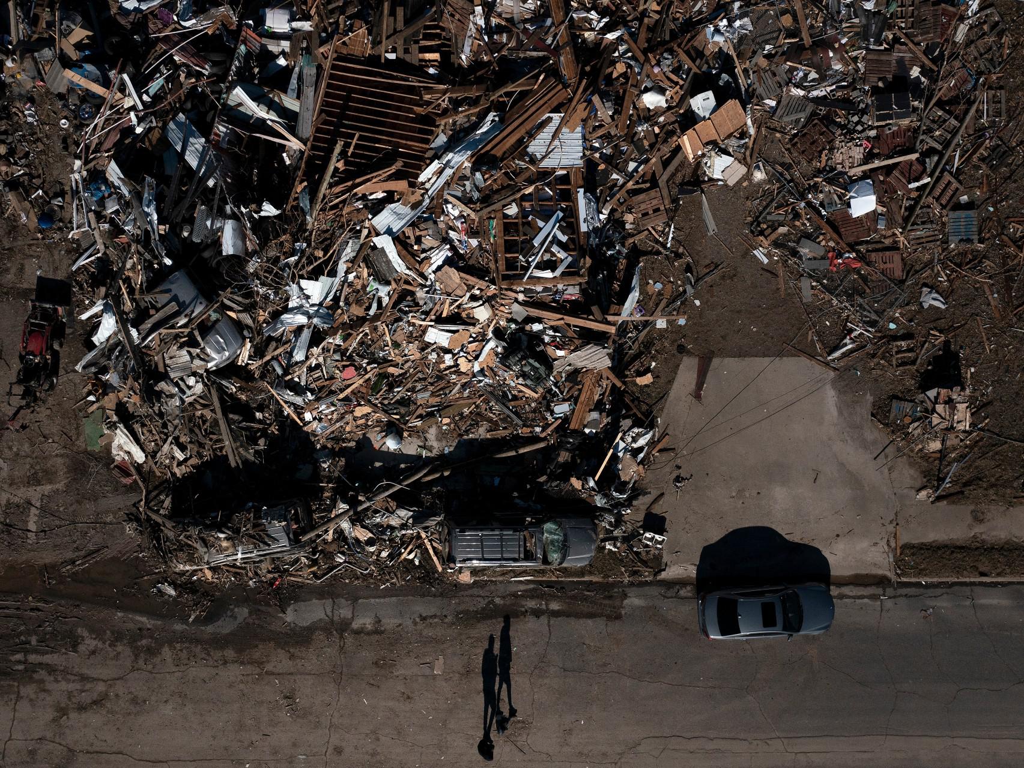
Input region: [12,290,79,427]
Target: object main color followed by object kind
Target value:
black work vehicle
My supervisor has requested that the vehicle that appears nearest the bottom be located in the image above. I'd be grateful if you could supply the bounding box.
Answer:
[694,577,834,643]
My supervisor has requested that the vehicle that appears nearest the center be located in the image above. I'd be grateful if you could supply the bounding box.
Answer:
[450,511,596,570]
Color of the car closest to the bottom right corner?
black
